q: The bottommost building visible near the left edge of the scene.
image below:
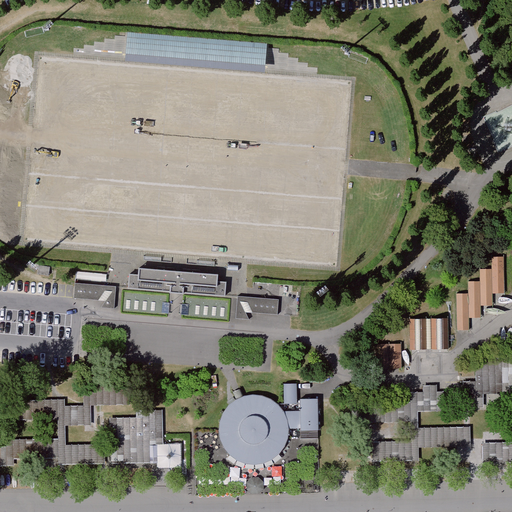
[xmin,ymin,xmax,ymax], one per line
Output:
[0,390,128,466]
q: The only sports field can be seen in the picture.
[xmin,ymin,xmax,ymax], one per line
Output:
[20,52,356,270]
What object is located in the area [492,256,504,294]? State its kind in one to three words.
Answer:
building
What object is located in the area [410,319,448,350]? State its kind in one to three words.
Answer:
shed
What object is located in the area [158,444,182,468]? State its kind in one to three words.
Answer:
building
